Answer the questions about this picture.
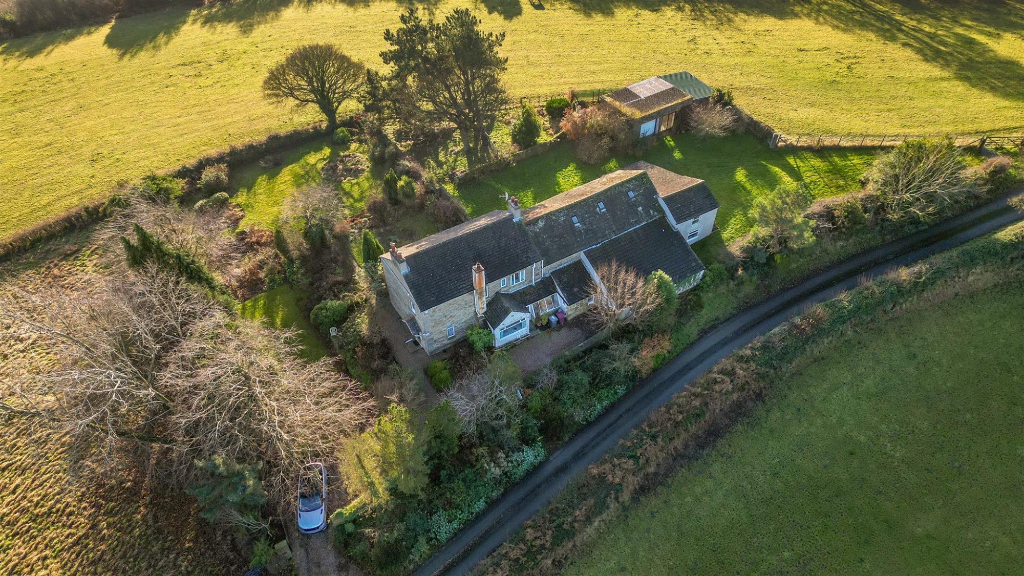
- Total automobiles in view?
1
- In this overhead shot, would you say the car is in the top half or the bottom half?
bottom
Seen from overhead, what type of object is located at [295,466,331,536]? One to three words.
car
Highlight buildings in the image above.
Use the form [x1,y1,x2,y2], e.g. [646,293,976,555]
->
[602,66,714,138]
[378,160,721,355]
